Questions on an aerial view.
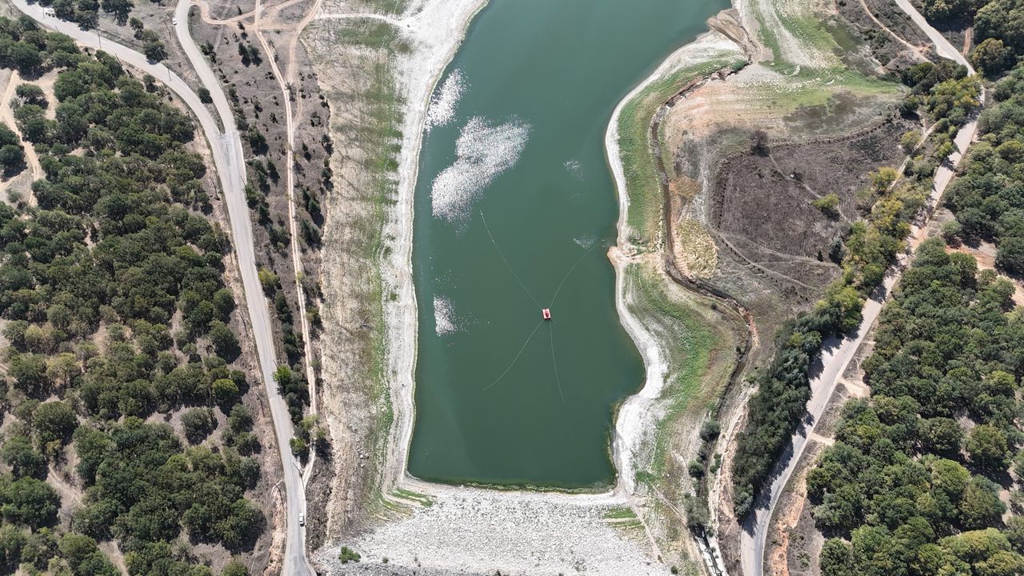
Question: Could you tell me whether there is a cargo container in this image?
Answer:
No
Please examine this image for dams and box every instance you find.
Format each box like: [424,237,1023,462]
[315,484,667,576]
